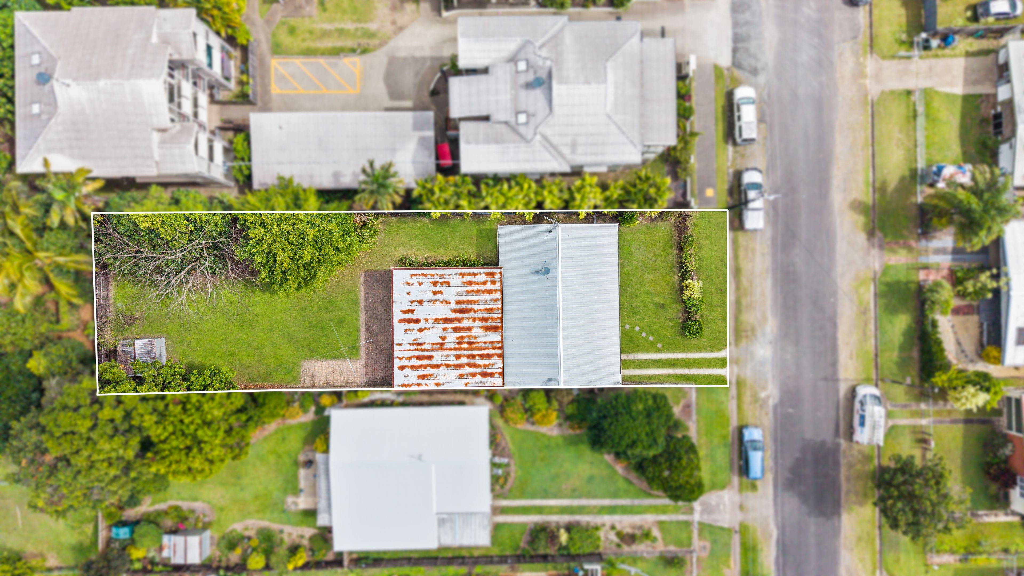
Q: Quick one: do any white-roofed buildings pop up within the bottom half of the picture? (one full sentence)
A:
Yes, I can see a white-roofed building within the bottom half of the picture.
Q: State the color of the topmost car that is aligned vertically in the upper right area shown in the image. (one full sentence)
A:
The color of the topmost car that is aligned vertically in the upper right area is white.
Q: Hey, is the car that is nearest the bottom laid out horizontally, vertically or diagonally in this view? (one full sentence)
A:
I'd say the car that is nearest the bottom is aligned vertically in the picture.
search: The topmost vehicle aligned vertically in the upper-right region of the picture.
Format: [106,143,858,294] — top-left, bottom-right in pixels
[730,86,759,146]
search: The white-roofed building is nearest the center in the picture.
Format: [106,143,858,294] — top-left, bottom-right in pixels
[497,223,622,388]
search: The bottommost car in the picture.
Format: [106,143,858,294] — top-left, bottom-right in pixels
[739,425,767,479]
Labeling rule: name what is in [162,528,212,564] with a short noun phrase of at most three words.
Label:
shed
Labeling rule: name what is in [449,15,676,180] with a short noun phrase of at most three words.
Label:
house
